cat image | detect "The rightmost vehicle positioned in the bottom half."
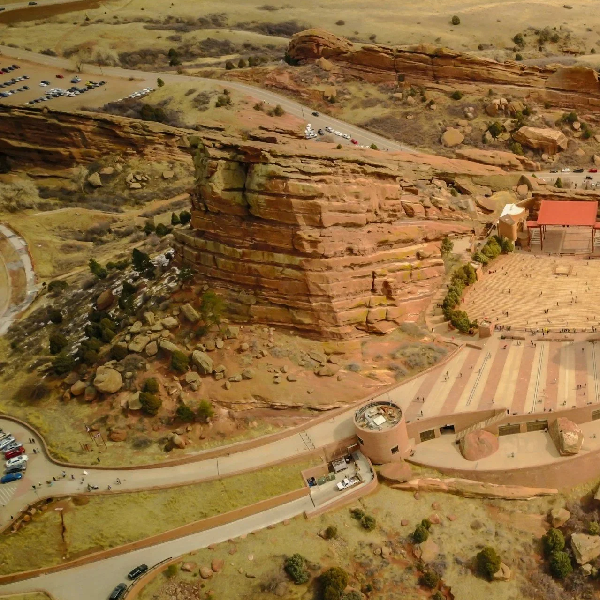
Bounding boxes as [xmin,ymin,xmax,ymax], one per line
[335,474,360,489]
